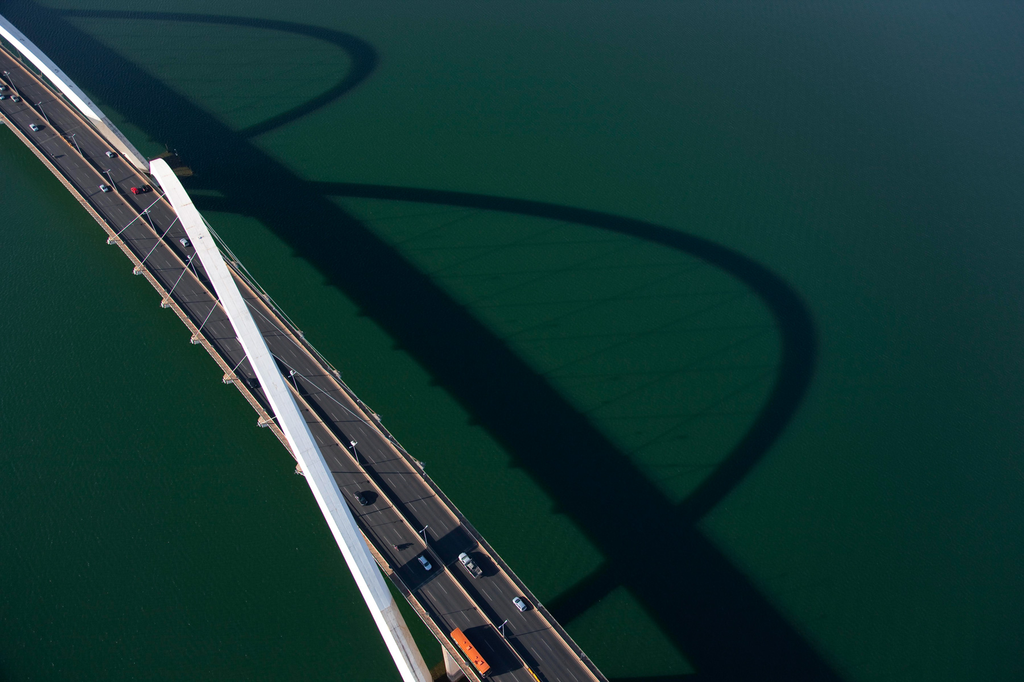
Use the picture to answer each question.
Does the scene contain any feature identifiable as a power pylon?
No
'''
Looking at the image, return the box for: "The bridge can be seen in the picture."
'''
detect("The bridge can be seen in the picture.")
[0,15,610,682]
